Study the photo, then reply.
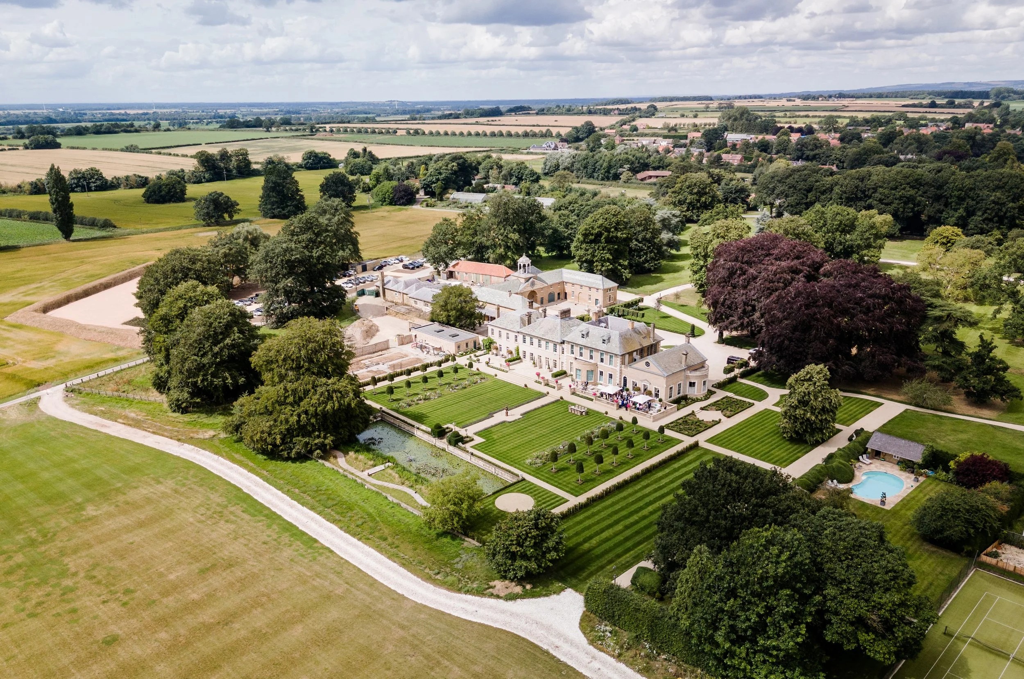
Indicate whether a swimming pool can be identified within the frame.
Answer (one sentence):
Yes, the picture does show a swimming pool.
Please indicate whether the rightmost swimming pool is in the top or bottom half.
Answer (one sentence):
The rightmost swimming pool sits in the bottom half of the picture.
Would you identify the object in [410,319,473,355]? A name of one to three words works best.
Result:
shed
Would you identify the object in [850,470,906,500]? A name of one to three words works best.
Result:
swimming pool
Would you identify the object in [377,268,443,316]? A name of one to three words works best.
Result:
shed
